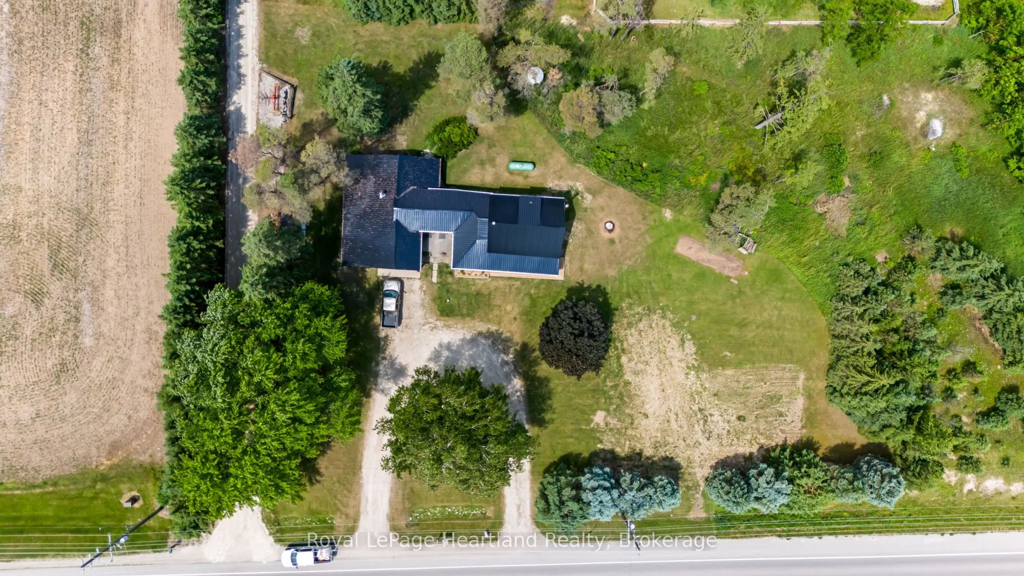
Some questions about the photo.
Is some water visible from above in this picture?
No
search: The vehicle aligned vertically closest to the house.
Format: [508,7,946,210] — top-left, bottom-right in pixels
[382,278,403,329]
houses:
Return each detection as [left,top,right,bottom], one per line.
[341,154,565,277]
